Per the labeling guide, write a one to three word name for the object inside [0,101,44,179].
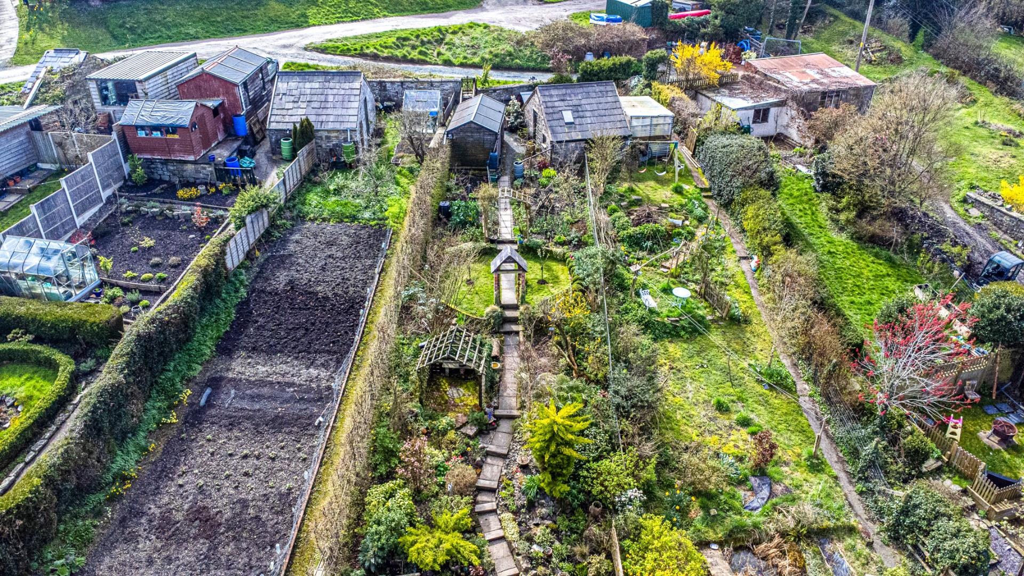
shed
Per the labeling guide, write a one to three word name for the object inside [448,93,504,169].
shed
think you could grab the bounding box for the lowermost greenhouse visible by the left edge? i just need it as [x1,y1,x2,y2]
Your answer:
[0,233,102,310]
